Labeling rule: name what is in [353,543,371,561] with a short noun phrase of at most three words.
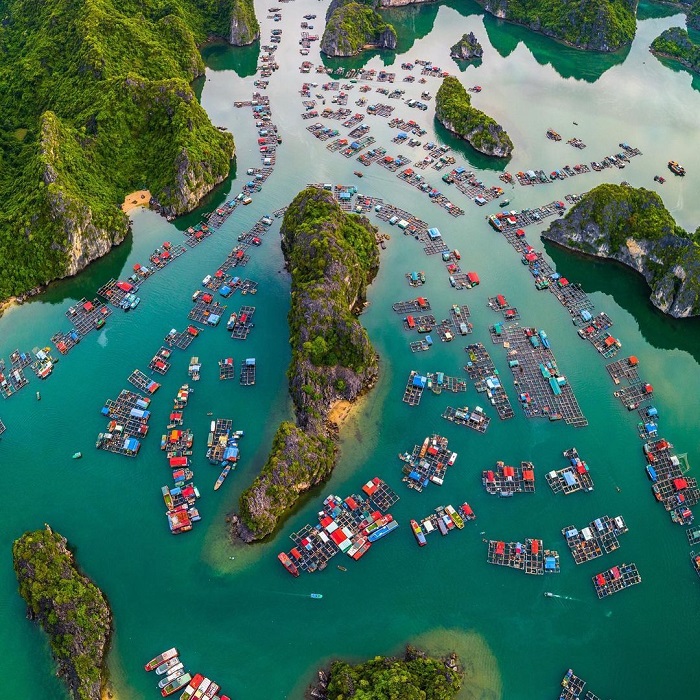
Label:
boat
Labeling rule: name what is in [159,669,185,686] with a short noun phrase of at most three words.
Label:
boat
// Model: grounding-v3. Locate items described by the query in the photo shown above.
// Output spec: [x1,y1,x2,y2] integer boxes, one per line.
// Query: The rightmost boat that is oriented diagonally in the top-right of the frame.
[668,161,686,175]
